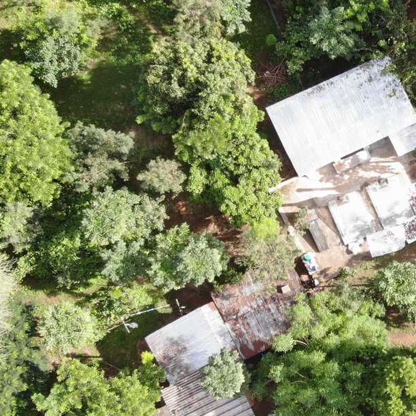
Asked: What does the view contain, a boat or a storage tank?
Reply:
storage tank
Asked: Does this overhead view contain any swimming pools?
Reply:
No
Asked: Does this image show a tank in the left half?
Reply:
No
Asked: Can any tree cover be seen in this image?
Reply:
Yes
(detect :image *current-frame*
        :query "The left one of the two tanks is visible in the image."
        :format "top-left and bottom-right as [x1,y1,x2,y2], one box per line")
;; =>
[328,190,376,245]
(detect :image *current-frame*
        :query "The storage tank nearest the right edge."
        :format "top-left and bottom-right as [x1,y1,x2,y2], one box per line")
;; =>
[367,175,416,230]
